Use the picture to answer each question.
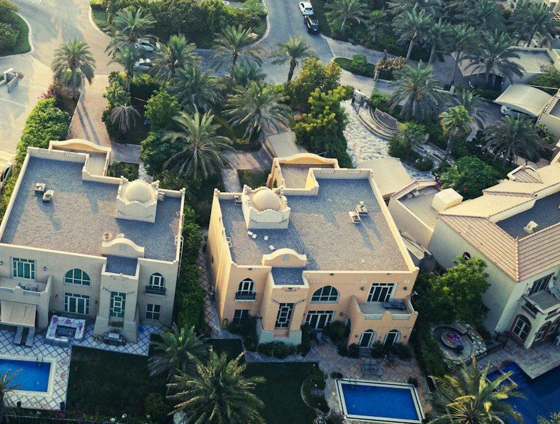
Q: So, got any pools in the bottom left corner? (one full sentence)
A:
Yes, a pool is visible in the bottom left corner.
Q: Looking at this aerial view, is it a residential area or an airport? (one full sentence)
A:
This image shows a residential area.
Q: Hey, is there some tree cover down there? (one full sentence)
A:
Yes, some tree cover is visible.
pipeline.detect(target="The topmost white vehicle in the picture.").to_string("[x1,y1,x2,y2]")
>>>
[299,0,316,15]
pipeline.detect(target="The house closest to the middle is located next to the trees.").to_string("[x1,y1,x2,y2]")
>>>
[211,165,423,368]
